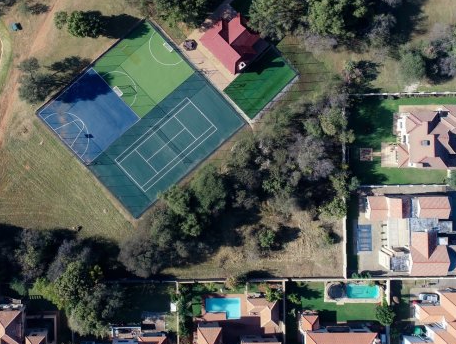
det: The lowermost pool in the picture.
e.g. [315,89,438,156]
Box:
[204,297,241,319]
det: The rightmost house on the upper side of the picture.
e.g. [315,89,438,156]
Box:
[392,105,456,169]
